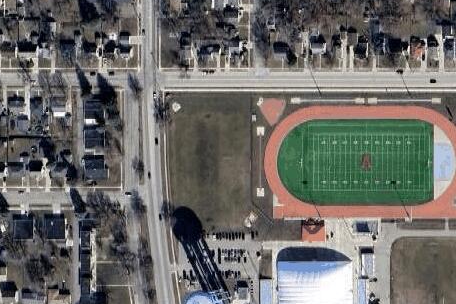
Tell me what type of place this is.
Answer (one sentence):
This image shows a sports ground.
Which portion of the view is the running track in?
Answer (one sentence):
The running track sits in the right section of the image.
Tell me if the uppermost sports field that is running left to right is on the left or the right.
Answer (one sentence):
The uppermost sports field that is running left to right sits on the right side.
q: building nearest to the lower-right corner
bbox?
[360,253,373,278]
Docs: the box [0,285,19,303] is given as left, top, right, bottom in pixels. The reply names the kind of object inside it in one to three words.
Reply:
house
